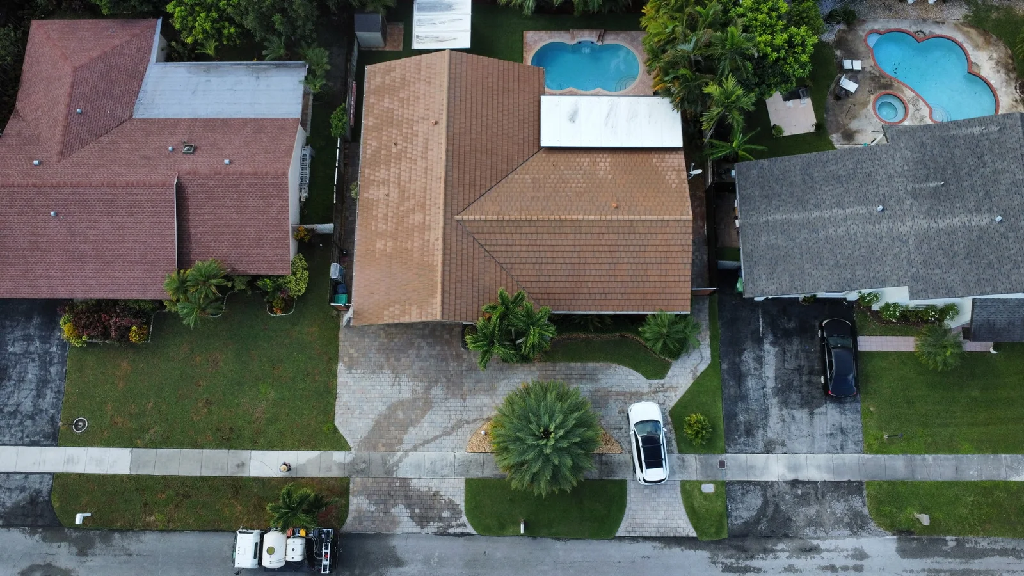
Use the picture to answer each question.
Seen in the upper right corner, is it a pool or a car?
pool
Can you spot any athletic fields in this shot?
No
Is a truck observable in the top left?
No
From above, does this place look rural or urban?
urban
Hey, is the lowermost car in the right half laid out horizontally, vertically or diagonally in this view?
vertically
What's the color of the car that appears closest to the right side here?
black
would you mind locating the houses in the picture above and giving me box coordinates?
[732,113,1024,343]
[0,17,309,299]
[350,50,692,326]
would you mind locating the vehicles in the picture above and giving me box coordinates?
[628,400,672,486]
[816,318,861,398]
[229,520,343,575]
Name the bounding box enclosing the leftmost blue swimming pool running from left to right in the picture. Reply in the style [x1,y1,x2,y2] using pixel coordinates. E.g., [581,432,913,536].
[529,39,642,94]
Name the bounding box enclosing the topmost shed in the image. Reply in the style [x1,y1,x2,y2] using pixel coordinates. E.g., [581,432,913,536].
[354,13,386,48]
